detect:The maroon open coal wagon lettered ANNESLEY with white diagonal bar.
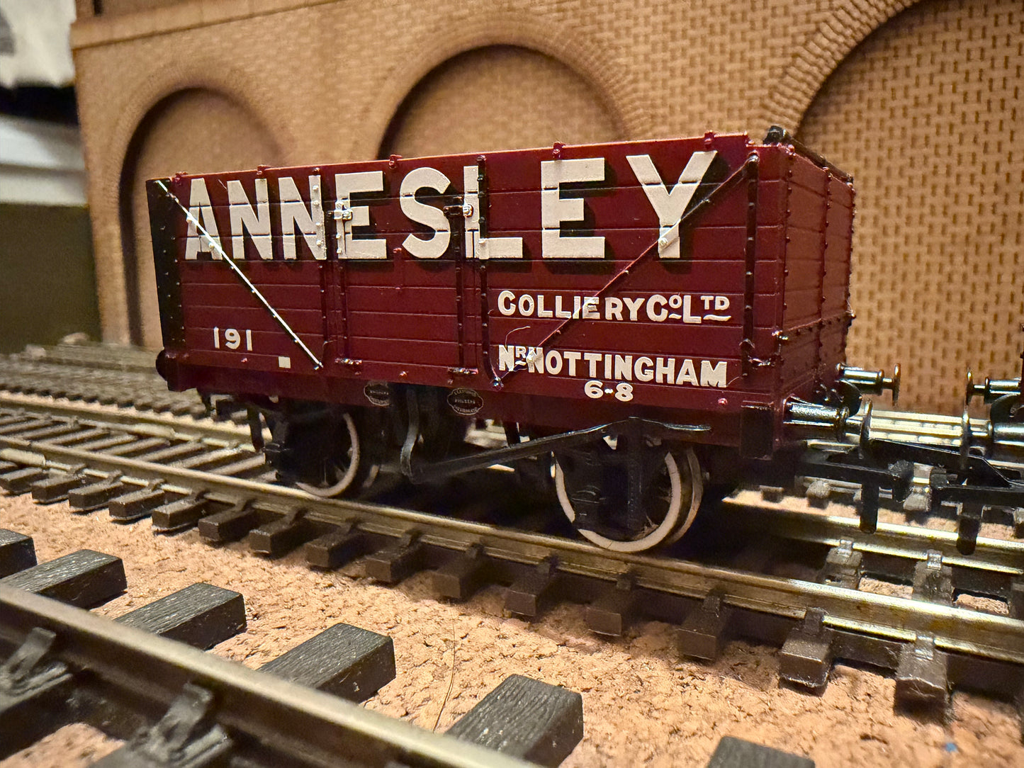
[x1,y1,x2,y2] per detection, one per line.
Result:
[146,125,912,551]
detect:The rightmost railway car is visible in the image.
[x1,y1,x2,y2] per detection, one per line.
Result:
[873,294,1024,549]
